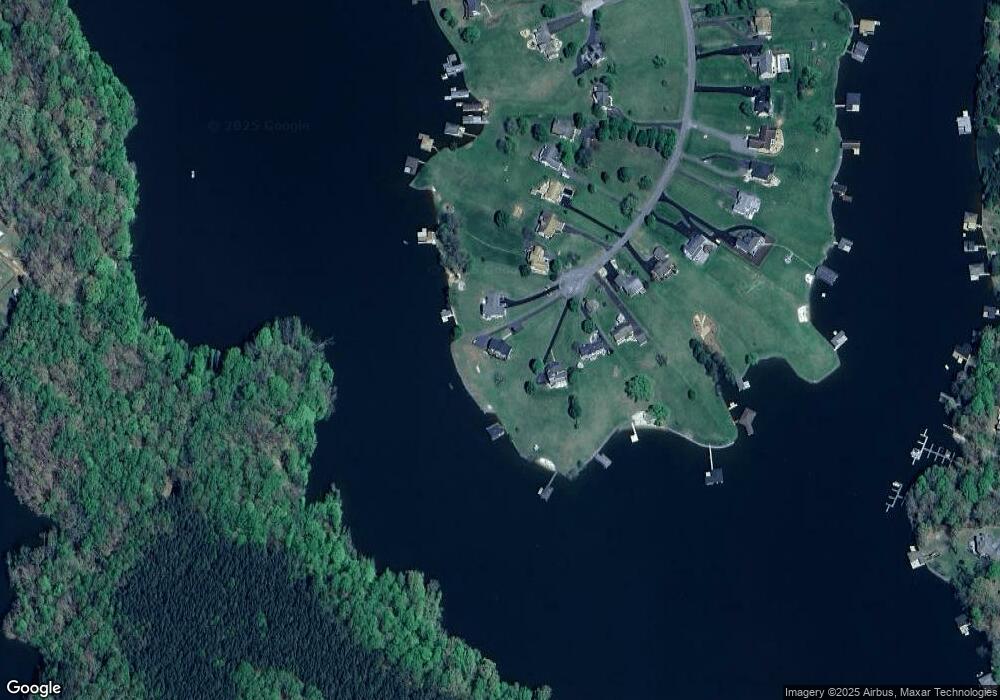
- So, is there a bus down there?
No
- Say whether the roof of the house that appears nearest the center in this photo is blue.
Yes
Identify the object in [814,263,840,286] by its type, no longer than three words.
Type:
building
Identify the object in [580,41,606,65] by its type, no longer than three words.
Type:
house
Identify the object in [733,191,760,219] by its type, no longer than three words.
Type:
house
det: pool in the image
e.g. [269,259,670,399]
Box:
[777,54,791,72]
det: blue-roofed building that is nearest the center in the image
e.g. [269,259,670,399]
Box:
[483,336,514,359]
